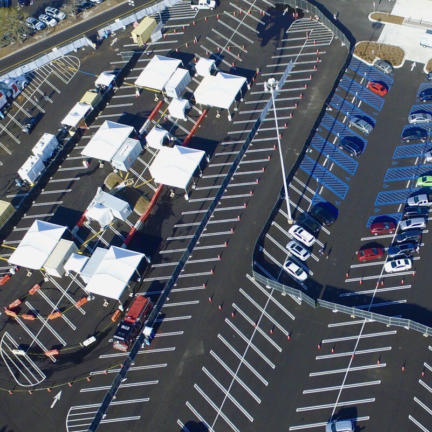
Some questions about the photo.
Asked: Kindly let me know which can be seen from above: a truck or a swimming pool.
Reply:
truck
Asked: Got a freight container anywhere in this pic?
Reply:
Yes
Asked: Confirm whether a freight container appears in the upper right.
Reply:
No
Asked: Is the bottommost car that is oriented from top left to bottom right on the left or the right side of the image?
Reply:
right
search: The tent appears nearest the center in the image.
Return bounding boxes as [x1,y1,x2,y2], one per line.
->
[154,145,207,197]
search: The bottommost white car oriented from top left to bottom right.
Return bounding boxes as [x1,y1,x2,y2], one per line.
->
[283,258,309,282]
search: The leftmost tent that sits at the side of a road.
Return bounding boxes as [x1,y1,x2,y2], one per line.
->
[8,220,72,278]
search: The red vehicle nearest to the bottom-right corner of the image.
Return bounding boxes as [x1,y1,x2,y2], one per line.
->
[355,246,386,261]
